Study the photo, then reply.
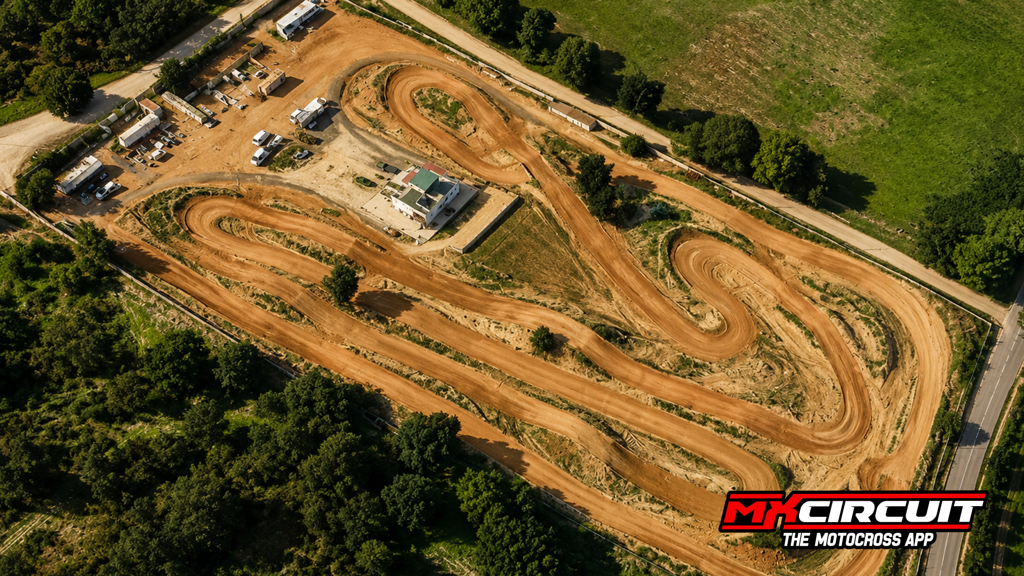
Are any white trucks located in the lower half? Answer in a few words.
No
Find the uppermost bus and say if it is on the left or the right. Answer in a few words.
left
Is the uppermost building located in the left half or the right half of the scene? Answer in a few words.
left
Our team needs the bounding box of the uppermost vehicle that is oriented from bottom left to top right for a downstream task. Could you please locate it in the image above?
[271,0,326,37]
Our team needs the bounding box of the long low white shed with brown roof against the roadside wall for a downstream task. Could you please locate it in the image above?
[551,97,598,128]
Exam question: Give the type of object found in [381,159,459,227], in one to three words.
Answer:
building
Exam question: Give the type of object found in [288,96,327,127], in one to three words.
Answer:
truck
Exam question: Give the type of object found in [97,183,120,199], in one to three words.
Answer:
car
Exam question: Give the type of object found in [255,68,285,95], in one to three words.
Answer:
building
